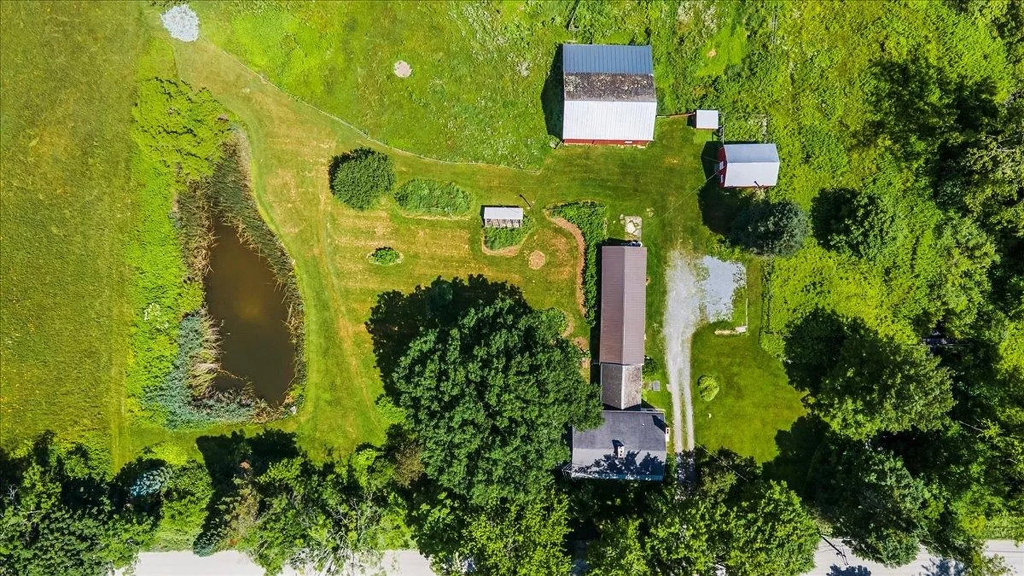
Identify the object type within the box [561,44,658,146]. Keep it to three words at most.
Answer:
barn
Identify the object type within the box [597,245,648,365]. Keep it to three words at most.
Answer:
shed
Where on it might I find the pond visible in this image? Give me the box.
[205,213,297,405]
